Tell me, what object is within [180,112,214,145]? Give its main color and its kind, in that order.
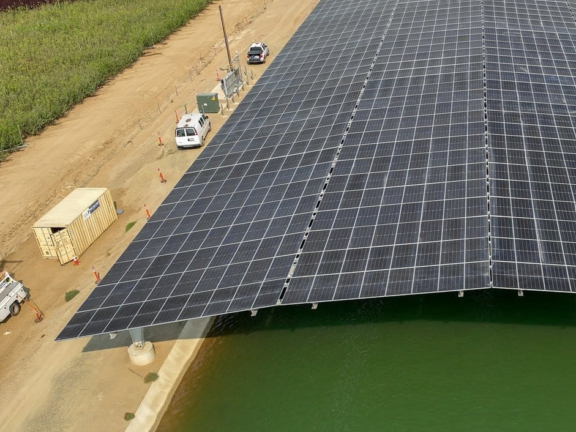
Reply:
white van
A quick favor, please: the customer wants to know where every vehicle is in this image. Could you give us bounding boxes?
[247,41,271,62]
[0,275,26,319]
[180,112,214,145]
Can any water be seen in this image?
Yes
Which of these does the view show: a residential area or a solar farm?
solar farm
